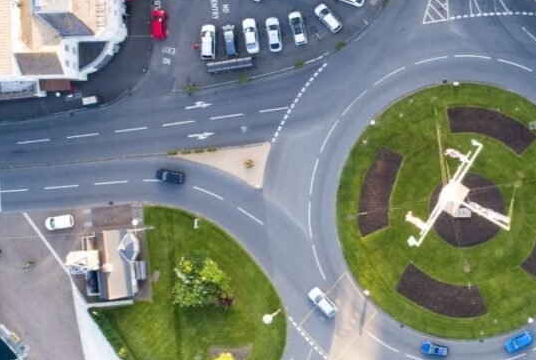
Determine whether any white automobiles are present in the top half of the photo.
Yes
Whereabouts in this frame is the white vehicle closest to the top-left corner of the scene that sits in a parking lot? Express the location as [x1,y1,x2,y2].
[196,23,215,59]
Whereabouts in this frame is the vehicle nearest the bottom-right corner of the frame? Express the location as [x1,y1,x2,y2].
[502,331,535,354]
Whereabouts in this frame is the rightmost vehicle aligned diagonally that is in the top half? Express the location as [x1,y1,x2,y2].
[311,2,343,34]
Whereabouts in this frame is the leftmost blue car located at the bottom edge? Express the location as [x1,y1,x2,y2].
[419,342,448,358]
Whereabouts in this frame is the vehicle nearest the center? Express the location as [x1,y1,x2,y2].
[152,167,186,185]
